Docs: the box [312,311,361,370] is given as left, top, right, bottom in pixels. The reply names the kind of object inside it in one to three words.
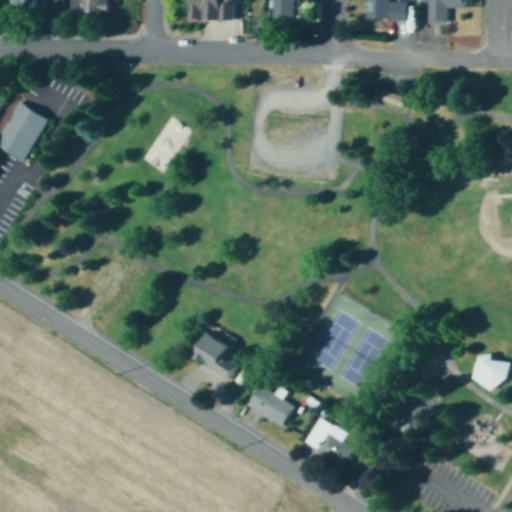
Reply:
tennis court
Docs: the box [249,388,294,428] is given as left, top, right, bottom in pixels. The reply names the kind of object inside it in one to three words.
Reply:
house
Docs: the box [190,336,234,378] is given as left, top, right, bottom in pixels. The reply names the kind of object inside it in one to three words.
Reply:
house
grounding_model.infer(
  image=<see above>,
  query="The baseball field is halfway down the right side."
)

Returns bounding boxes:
[480,190,512,256]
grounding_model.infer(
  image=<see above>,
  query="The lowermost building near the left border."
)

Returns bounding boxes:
[0,103,47,159]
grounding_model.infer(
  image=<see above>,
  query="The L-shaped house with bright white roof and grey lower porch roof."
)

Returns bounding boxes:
[306,418,350,460]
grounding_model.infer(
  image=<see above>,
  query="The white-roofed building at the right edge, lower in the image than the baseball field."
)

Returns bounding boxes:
[473,354,512,392]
